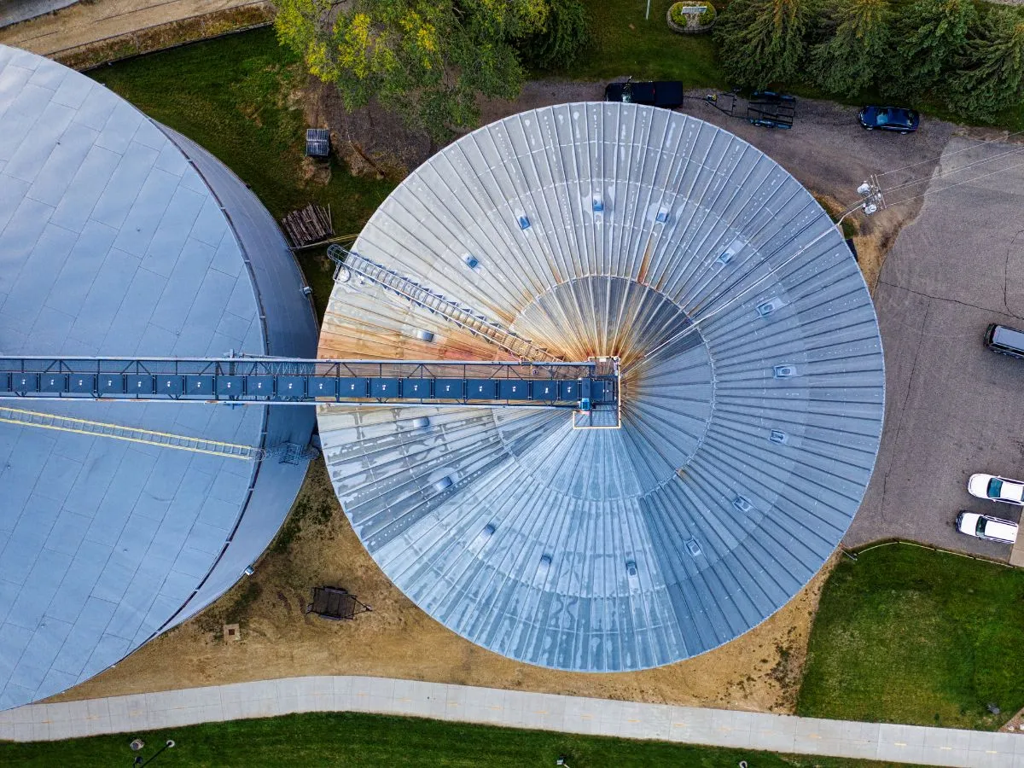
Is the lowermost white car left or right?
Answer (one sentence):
The lowermost white car is on the right side of the image.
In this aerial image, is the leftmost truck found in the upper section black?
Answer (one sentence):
Yes, the leftmost truck found in the upper section is indeed black.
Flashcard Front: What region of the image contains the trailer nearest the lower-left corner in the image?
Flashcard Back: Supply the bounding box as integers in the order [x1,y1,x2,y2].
[312,586,375,625]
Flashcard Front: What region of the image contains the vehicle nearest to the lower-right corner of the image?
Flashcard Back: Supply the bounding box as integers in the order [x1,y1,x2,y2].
[956,513,1024,547]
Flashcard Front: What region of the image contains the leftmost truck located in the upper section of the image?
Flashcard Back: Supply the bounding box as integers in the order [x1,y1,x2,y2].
[607,74,683,109]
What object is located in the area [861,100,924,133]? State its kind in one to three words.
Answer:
car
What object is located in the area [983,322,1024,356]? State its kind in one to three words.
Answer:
car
